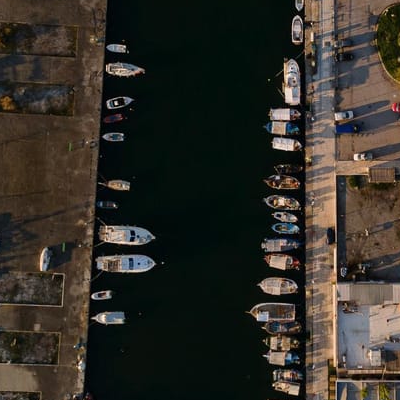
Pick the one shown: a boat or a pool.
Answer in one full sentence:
The one in the frame is a boat.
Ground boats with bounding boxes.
[262,337,300,353]
[105,43,127,52]
[262,320,307,335]
[103,113,125,123]
[291,14,303,47]
[101,132,125,141]
[271,137,303,151]
[271,223,305,235]
[246,303,308,323]
[93,253,156,279]
[256,278,304,296]
[89,312,126,326]
[269,107,304,120]
[260,239,305,254]
[262,196,306,211]
[294,0,304,11]
[89,290,112,301]
[104,96,134,110]
[102,62,145,76]
[271,382,307,400]
[96,201,118,209]
[274,164,307,173]
[272,212,305,223]
[263,255,306,273]
[96,220,156,245]
[100,176,130,191]
[262,174,305,190]
[278,52,302,104]
[263,121,305,135]
[262,352,300,368]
